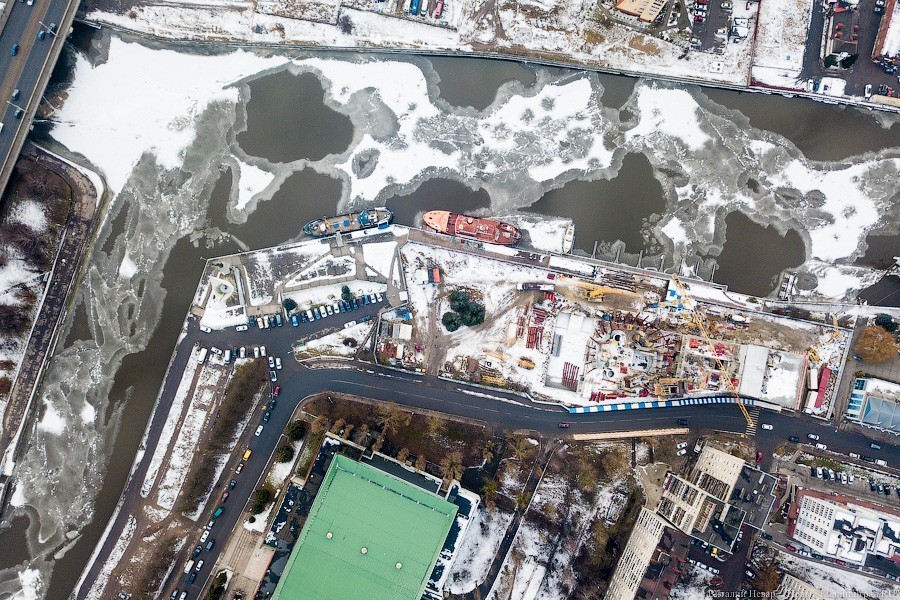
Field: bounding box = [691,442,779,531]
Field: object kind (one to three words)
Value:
building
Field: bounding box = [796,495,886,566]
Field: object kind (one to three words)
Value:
building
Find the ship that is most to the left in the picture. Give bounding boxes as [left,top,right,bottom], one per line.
[301,203,391,234]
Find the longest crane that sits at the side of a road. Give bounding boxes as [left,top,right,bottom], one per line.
[650,275,753,430]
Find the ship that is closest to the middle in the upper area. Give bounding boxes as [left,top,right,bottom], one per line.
[424,209,522,248]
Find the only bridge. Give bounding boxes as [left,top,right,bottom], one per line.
[0,0,84,215]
